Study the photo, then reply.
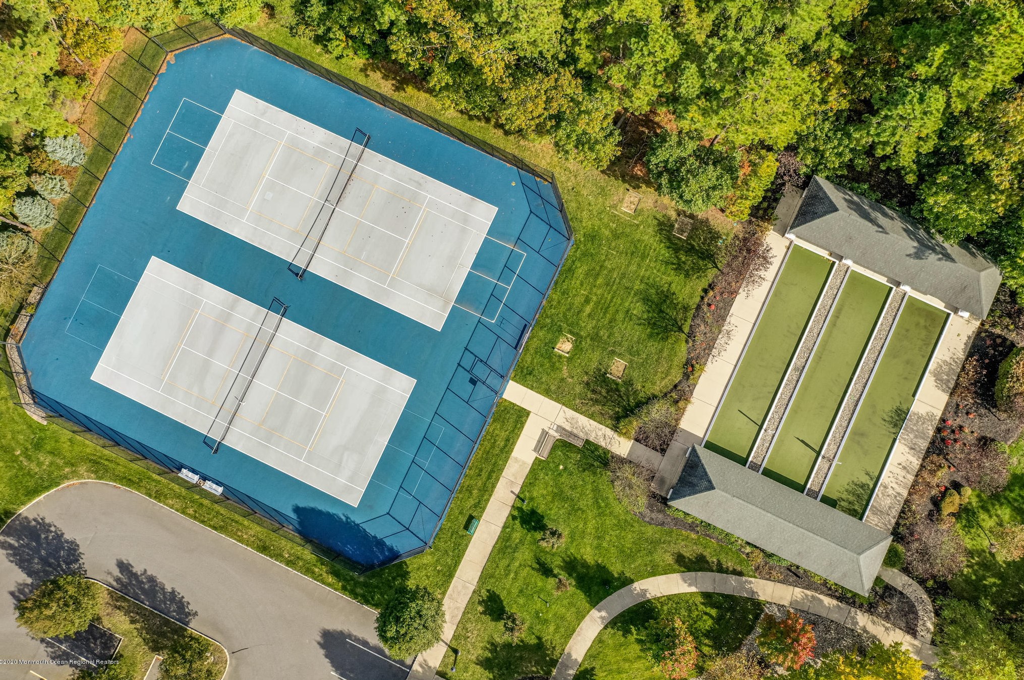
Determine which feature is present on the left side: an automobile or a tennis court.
tennis court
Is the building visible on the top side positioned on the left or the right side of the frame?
right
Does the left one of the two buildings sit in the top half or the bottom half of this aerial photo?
bottom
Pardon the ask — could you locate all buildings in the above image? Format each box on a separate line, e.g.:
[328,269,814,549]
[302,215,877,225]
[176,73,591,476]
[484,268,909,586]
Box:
[666,444,892,597]
[783,175,1005,320]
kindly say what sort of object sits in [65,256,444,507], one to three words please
tennis court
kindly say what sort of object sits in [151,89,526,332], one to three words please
tennis court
